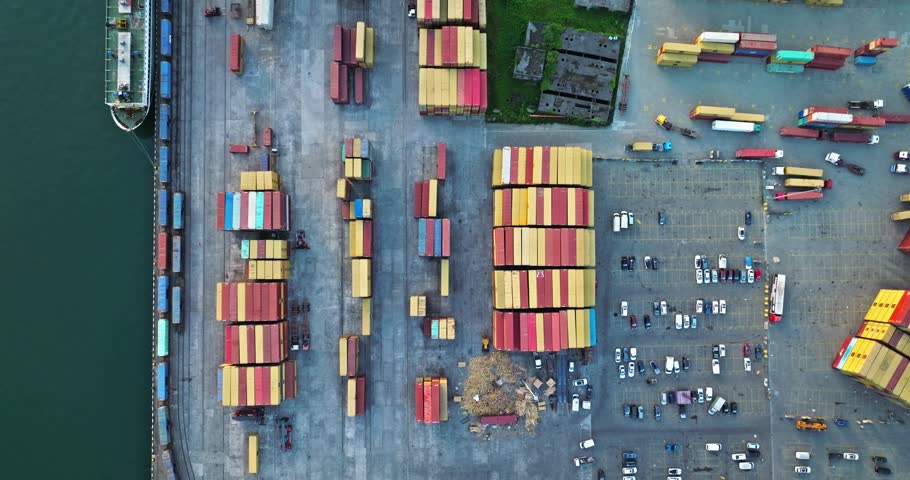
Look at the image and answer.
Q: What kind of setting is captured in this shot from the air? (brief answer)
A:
port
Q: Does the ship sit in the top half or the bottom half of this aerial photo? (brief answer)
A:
top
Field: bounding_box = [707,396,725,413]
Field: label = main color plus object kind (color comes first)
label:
white vehicle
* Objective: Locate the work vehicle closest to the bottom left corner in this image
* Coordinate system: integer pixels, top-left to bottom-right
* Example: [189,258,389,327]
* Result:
[231,408,262,427]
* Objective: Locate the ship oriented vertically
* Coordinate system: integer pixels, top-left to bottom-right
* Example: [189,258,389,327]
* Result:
[102,0,156,130]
